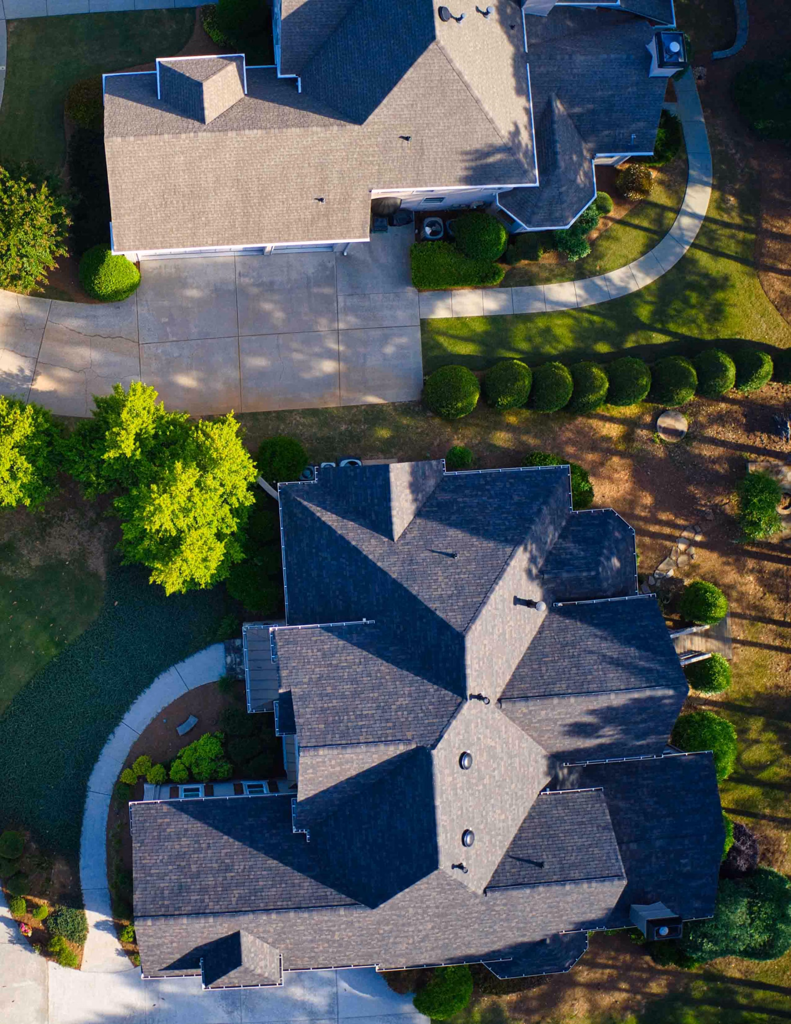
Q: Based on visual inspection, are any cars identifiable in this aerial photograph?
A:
No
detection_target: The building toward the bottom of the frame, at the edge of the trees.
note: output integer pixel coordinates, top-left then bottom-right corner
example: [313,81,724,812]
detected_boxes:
[128,459,723,992]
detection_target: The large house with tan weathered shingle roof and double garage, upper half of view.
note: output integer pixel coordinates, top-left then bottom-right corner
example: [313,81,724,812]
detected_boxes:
[100,0,686,268]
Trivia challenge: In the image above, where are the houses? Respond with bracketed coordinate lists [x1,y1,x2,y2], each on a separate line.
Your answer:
[128,459,723,992]
[100,0,686,268]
